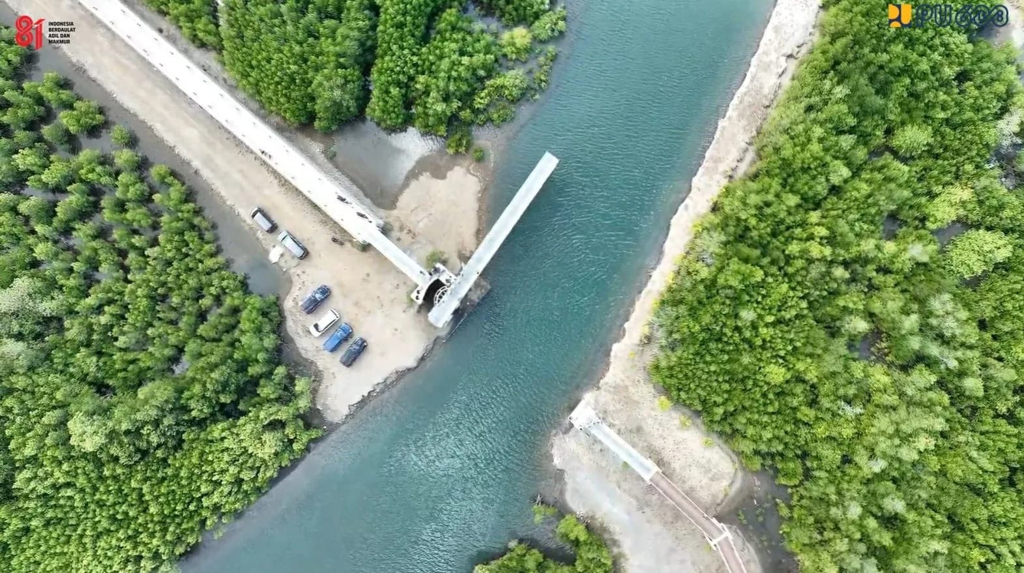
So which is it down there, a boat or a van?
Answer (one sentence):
The image shows a van.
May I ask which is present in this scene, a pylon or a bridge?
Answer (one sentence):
Looking from above, you can make out a bridge.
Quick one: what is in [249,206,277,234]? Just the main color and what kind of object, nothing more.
white van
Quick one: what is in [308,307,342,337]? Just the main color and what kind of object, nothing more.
white car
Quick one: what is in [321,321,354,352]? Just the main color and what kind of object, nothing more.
blue truck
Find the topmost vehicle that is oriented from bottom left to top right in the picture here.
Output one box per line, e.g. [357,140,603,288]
[298,283,331,313]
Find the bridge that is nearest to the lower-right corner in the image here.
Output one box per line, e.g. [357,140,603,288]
[589,422,663,487]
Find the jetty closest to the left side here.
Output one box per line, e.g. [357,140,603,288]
[410,263,456,304]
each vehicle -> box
[337,193,348,202]
[277,229,310,260]
[331,238,343,245]
[338,336,369,367]
[308,307,342,337]
[321,321,354,352]
[298,283,331,313]
[249,206,277,234]
[355,212,367,219]
[257,149,270,157]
